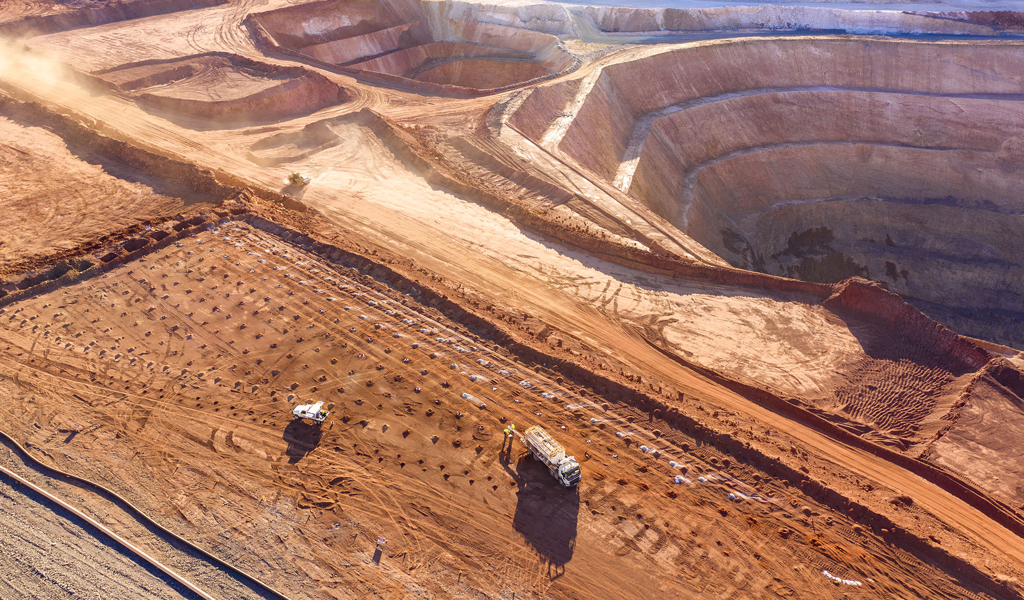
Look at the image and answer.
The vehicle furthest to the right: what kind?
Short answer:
truck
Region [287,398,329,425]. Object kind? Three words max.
truck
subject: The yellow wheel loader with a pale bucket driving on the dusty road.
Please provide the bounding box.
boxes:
[288,170,313,187]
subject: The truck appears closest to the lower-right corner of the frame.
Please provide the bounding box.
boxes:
[513,418,583,491]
